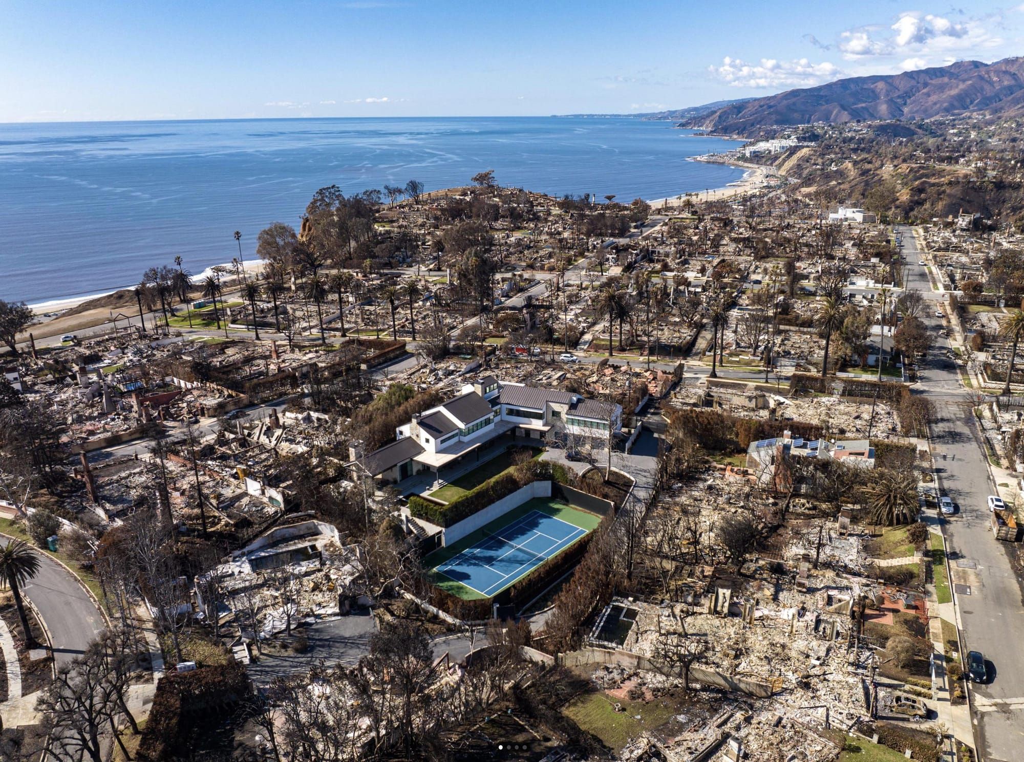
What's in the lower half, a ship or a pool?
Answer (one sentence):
Visible in the lower half is a pool.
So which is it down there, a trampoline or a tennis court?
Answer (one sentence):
Visible in the photo is a tennis court.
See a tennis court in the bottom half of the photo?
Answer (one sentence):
Yes, there is a tennis court in the bottom half of the photo.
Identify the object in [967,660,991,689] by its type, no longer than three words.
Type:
car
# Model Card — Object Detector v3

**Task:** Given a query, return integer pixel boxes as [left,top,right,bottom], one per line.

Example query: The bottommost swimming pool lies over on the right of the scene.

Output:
[591,603,641,643]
